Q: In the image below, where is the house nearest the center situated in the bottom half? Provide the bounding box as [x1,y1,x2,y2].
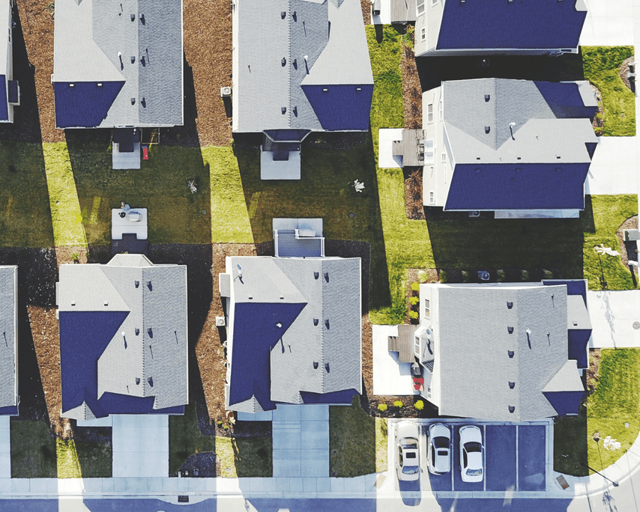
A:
[215,253,361,414]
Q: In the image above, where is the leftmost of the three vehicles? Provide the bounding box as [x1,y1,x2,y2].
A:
[396,422,425,480]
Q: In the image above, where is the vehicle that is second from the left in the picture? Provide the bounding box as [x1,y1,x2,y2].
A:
[428,423,456,475]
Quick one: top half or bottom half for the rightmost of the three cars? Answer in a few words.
bottom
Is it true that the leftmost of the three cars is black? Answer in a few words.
No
